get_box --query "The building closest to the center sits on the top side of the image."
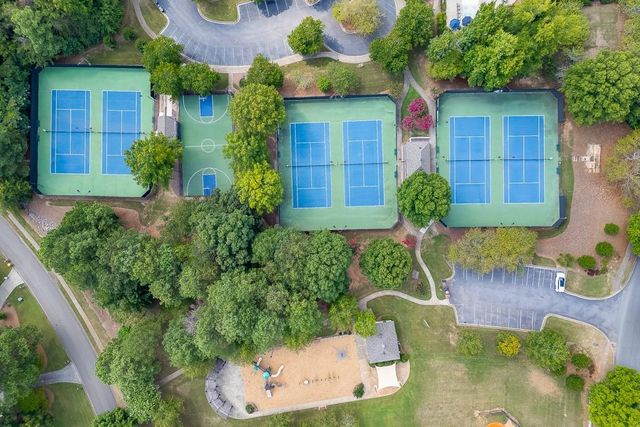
[406,142,431,176]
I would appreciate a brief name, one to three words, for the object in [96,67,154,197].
tennis court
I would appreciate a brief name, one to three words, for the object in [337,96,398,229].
tennis court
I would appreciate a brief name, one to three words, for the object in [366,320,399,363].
building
